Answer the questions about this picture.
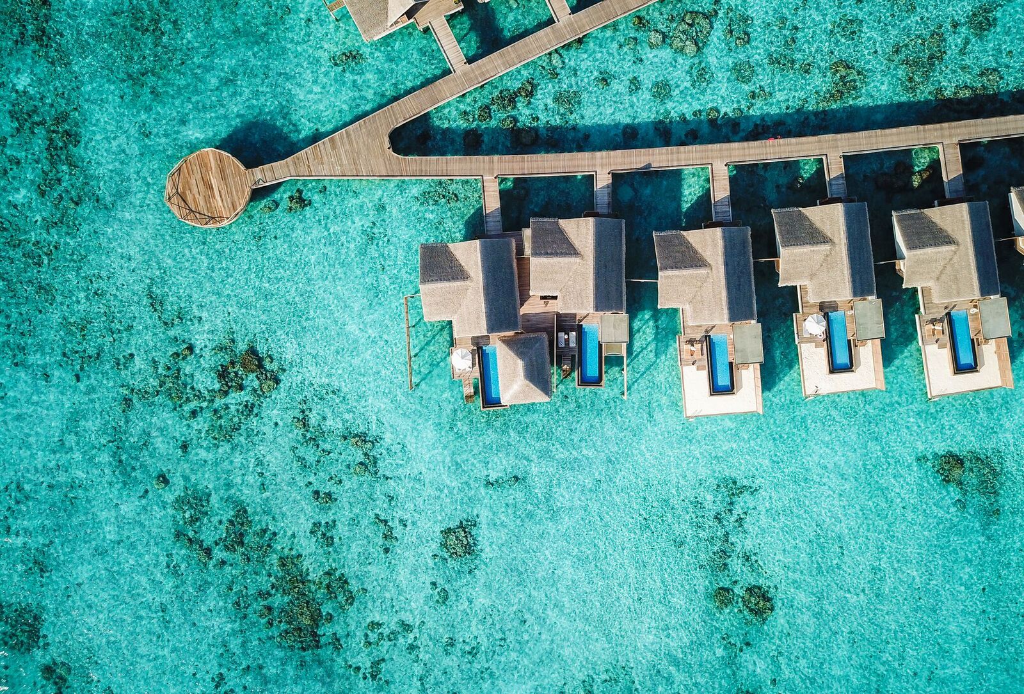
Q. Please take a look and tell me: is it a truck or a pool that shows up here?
pool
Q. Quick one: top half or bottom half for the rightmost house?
top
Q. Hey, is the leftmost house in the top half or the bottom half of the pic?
top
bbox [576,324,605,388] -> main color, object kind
blue swimming pool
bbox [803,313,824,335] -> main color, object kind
white umbrella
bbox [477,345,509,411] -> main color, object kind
blue swimming pool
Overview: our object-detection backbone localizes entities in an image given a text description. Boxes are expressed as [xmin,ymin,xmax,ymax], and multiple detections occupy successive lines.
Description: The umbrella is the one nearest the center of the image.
[451,348,472,370]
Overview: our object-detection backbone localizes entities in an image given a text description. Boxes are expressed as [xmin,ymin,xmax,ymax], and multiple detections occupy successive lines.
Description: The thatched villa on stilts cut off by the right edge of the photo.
[992,187,1024,262]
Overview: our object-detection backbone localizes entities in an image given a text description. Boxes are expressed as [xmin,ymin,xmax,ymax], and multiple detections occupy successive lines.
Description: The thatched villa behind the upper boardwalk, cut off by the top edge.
[344,0,426,45]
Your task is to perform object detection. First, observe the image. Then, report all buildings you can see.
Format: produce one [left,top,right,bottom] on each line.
[420,231,521,337]
[344,0,426,45]
[653,220,755,326]
[880,194,997,303]
[766,195,875,303]
[498,333,551,405]
[992,187,1024,262]
[529,211,625,313]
